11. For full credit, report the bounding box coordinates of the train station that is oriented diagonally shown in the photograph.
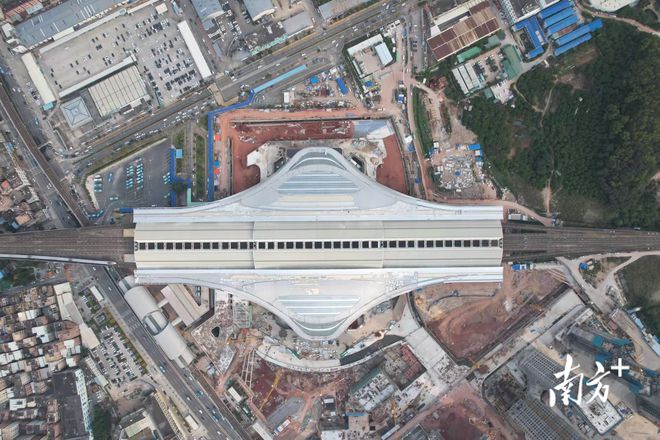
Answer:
[119,274,195,368]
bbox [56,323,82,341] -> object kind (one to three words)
house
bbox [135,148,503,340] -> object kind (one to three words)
train station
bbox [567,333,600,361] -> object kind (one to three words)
shed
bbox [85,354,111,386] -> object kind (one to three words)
building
